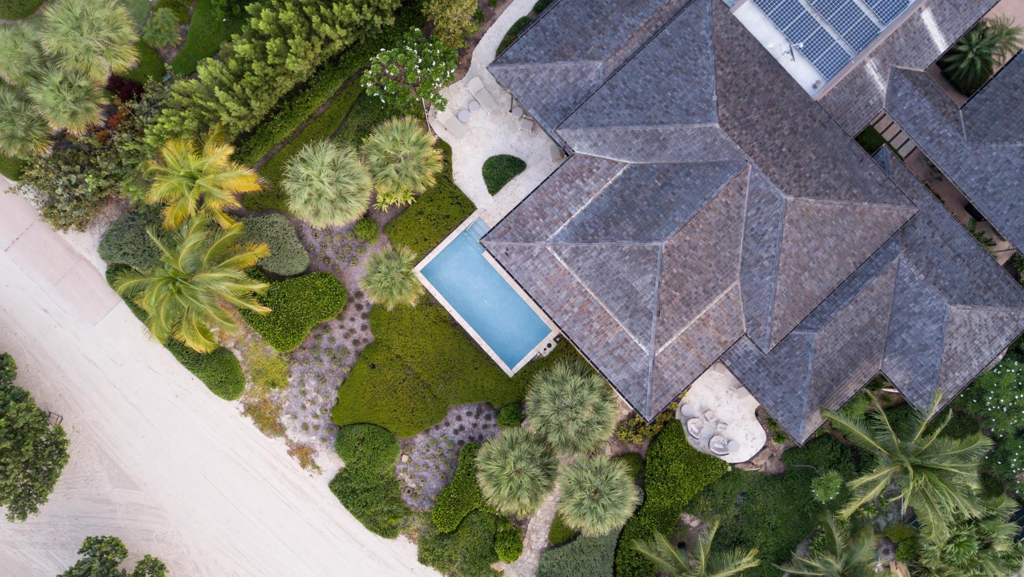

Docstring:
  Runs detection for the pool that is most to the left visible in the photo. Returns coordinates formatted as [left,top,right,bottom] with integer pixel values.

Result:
[414,209,561,375]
